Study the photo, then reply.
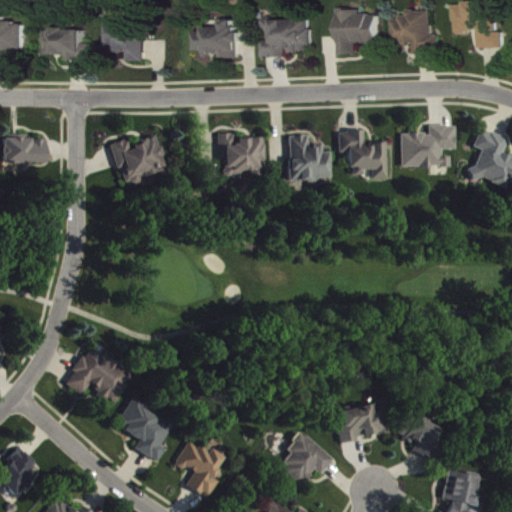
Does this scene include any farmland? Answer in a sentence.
No, the picture contains no farmland.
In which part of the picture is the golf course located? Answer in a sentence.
The golf course is in the center part of the image.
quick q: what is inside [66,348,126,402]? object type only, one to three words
house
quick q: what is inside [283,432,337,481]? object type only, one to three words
house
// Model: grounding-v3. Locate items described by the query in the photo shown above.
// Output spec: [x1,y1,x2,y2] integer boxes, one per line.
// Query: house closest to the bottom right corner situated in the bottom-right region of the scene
[444,469,486,512]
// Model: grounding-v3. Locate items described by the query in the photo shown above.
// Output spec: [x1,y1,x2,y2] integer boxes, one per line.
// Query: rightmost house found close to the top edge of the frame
[445,1,502,48]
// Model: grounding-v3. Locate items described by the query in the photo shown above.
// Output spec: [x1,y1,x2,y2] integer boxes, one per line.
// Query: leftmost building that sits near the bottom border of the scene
[0,442,44,503]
